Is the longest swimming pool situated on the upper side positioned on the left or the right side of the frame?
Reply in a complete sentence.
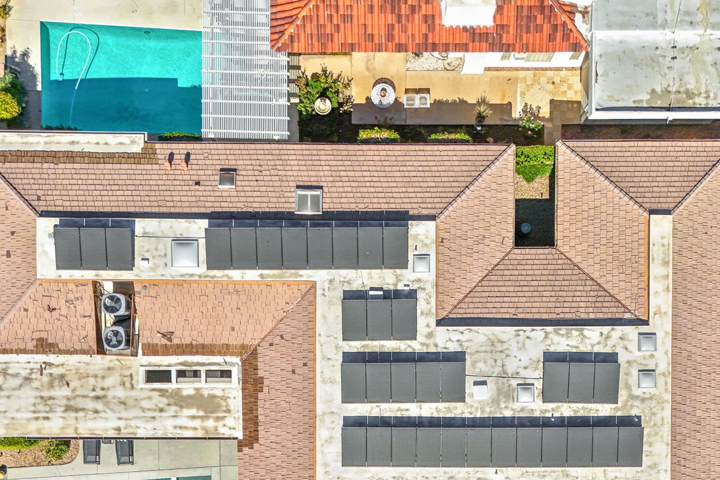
The longest swimming pool situated on the upper side is on the left side of the image.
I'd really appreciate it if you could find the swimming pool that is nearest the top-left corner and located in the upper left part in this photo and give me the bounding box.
[42,23,255,131]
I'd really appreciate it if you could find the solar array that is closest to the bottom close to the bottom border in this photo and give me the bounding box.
[342,427,644,467]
